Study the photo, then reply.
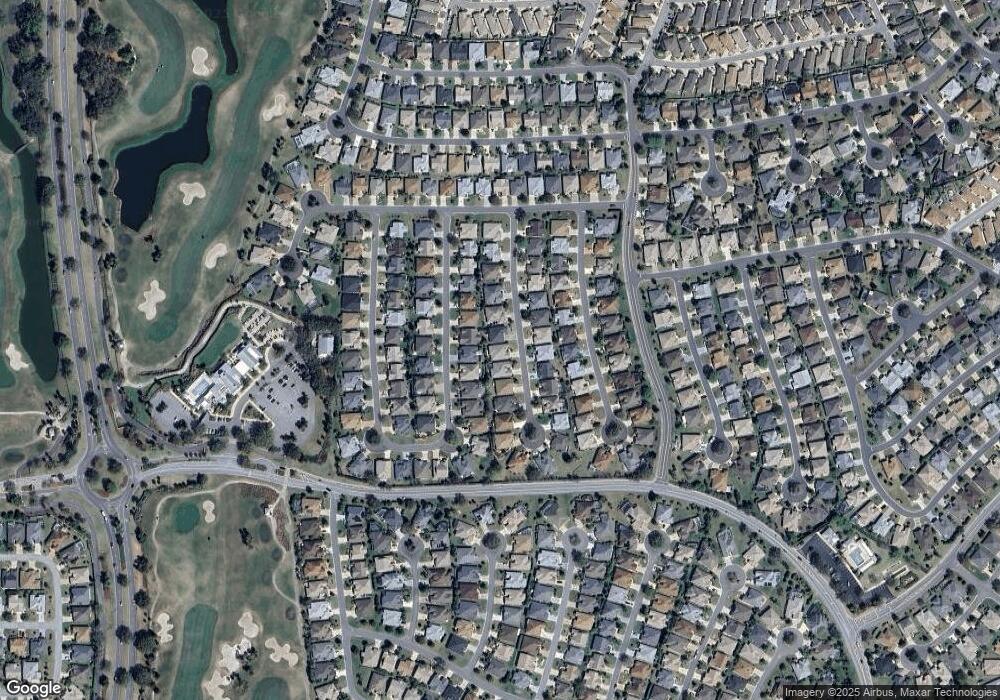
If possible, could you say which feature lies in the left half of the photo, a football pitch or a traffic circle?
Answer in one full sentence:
Visible in the left half of the photo is a traffic circle.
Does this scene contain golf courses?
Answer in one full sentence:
Yes, the photo shows a golf course.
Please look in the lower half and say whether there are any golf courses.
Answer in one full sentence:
Yes, a golf course appears in the lower half.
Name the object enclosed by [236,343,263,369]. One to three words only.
building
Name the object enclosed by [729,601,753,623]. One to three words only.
house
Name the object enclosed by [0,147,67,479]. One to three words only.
golf course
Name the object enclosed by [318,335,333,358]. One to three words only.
shed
